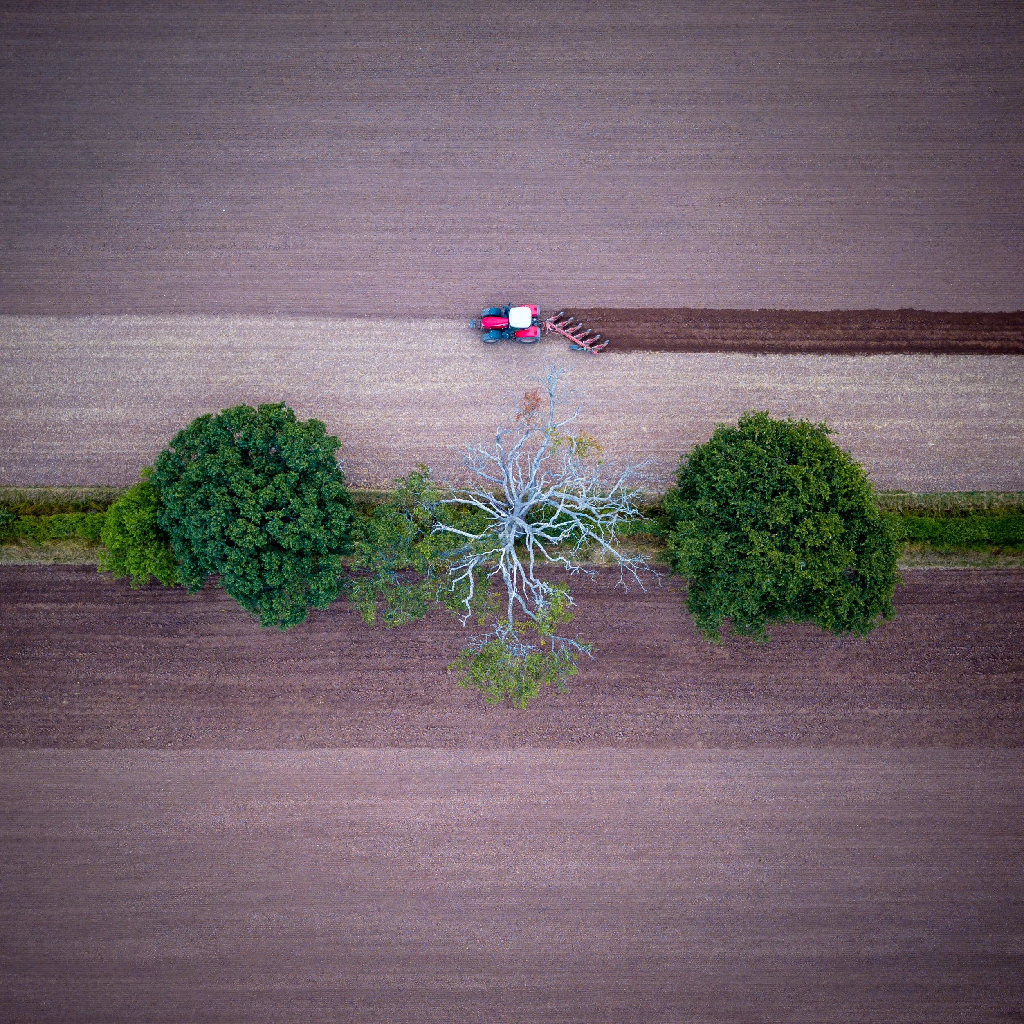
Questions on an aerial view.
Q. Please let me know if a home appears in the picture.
No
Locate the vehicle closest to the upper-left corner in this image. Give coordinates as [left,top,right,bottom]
[470,303,543,342]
